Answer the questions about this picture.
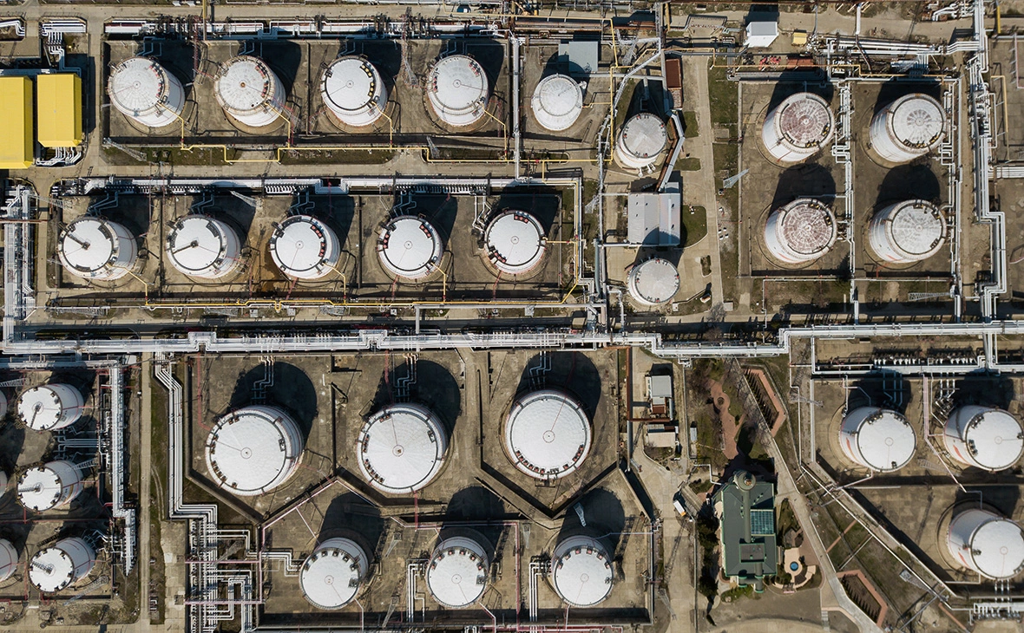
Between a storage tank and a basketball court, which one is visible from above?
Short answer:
storage tank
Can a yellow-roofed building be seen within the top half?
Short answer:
Yes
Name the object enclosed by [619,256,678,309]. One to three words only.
storage tank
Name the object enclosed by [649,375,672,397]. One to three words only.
building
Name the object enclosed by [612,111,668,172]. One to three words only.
storage tank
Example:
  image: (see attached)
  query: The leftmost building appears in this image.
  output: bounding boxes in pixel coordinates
[0,76,39,166]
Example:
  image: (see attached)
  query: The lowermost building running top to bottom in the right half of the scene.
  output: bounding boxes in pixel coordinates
[709,462,778,593]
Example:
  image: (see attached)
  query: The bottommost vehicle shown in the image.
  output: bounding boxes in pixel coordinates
[673,501,686,517]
